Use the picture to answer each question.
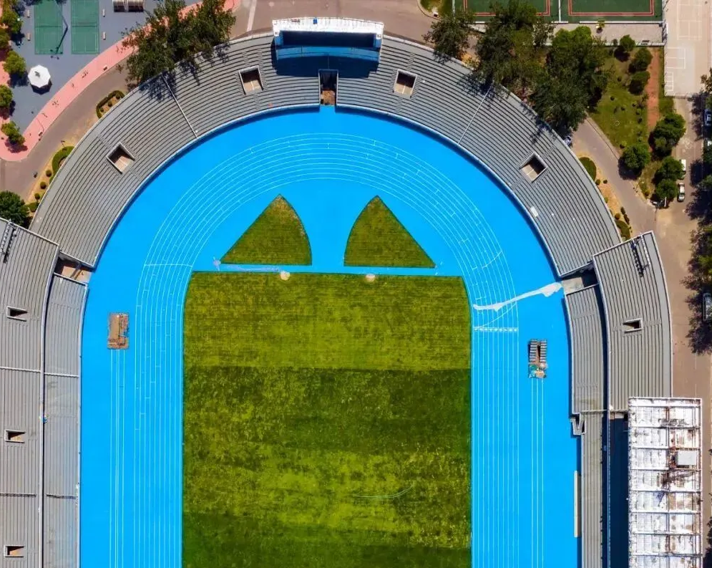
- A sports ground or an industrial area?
sports ground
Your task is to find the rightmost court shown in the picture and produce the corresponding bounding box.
[665,0,712,96]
